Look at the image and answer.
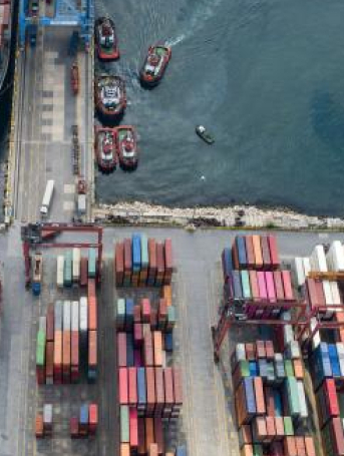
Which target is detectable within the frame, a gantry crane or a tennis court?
gantry crane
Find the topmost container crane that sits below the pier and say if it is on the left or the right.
left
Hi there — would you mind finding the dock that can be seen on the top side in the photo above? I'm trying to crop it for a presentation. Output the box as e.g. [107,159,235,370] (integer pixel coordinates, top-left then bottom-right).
[1,0,99,221]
